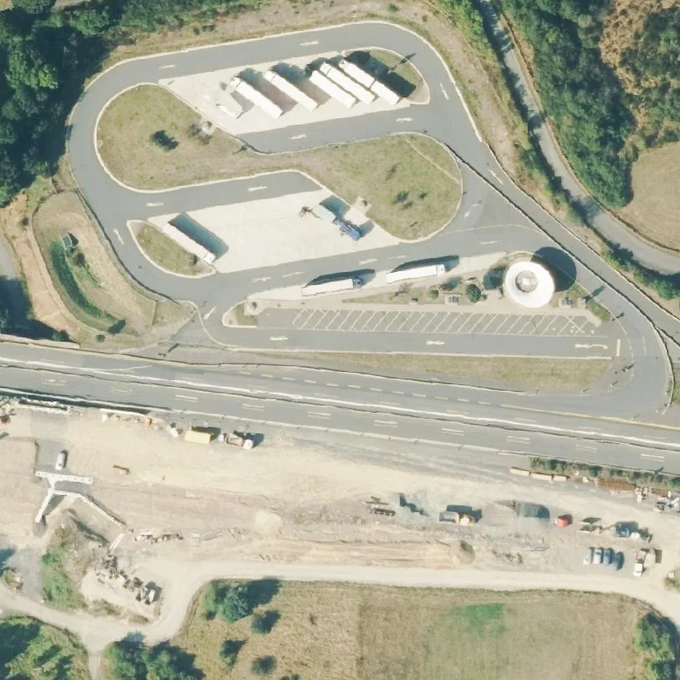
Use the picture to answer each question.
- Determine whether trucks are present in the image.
Yes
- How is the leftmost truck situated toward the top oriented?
on a diagonal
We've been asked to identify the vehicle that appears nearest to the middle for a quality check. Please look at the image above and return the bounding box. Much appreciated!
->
[299,278,362,296]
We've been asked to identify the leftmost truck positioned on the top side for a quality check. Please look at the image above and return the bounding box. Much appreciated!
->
[161,221,216,263]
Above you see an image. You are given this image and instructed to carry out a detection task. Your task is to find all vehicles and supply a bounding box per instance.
[386,264,447,282]
[341,57,399,104]
[631,532,641,540]
[586,549,595,565]
[322,61,376,104]
[225,433,256,450]
[594,548,602,565]
[299,278,362,296]
[441,511,473,526]
[633,551,646,575]
[264,69,320,113]
[320,207,363,240]
[644,550,656,573]
[230,75,284,120]
[54,450,65,470]
[598,521,631,538]
[555,519,568,525]
[305,65,359,111]
[603,549,611,565]
[613,554,623,570]
[161,221,216,263]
